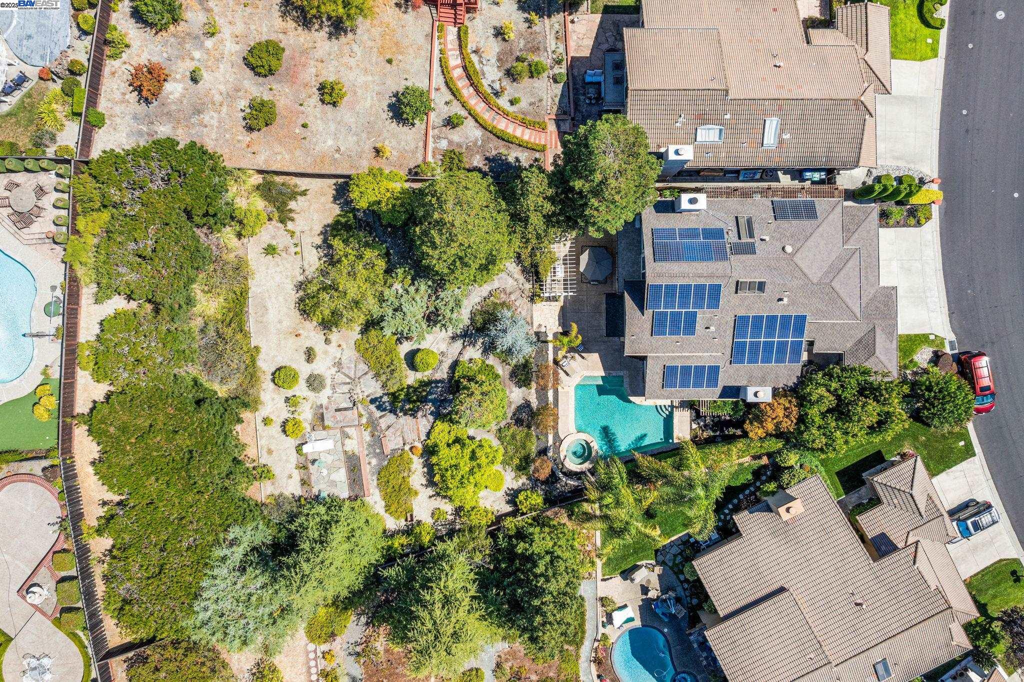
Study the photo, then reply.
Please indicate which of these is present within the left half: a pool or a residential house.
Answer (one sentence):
Visible within the left half is a pool.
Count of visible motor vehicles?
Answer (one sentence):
I count 2 motor vehicles.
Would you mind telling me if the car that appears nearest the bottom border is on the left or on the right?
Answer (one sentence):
You can find the car that appears nearest the bottom border on the right side of the picture.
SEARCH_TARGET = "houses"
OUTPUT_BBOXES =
[604,194,900,402]
[620,0,893,182]
[687,454,981,682]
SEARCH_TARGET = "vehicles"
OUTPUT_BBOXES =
[960,349,1001,416]
[947,499,1009,547]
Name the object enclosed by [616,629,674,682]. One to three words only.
swimming pool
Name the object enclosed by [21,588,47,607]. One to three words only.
fountain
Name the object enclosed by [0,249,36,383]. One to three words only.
swimming pool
